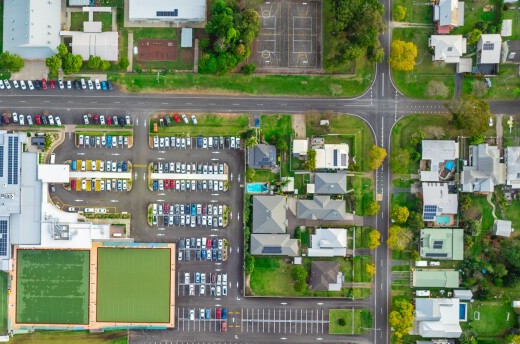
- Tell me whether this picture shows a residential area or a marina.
residential area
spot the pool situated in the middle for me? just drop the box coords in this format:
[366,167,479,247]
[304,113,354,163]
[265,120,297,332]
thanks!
[246,181,270,194]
